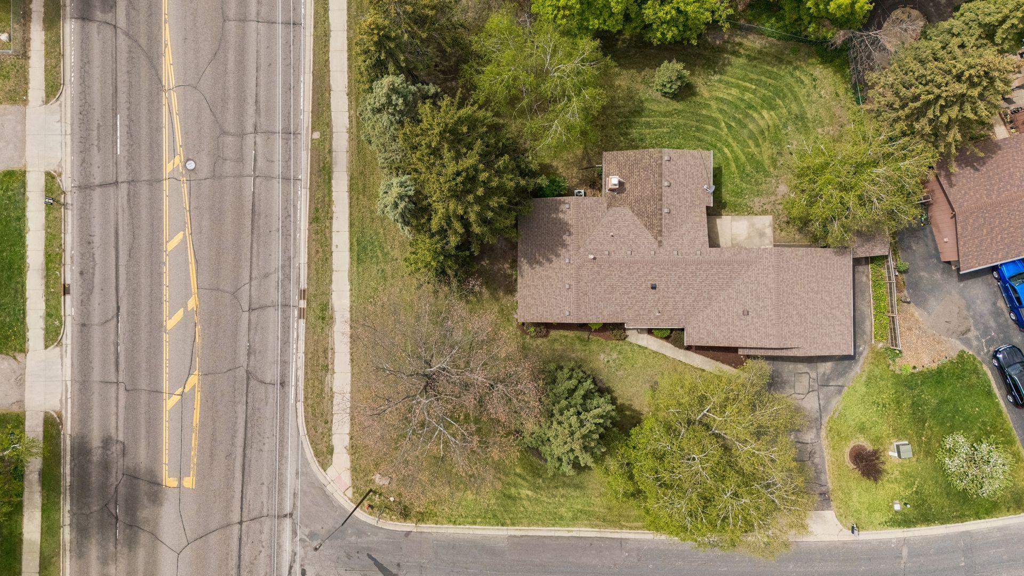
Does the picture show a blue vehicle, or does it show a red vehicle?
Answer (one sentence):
This aerial view contains a blue vehicle.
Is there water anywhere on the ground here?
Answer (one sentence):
No, there's no water in this view.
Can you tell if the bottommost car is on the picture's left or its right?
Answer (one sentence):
The bottommost car appears in the right half of the scene.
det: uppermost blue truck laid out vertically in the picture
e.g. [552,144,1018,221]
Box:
[990,260,1024,333]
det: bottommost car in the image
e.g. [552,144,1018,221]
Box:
[992,344,1024,409]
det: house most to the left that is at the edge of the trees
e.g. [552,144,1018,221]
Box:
[518,147,852,356]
